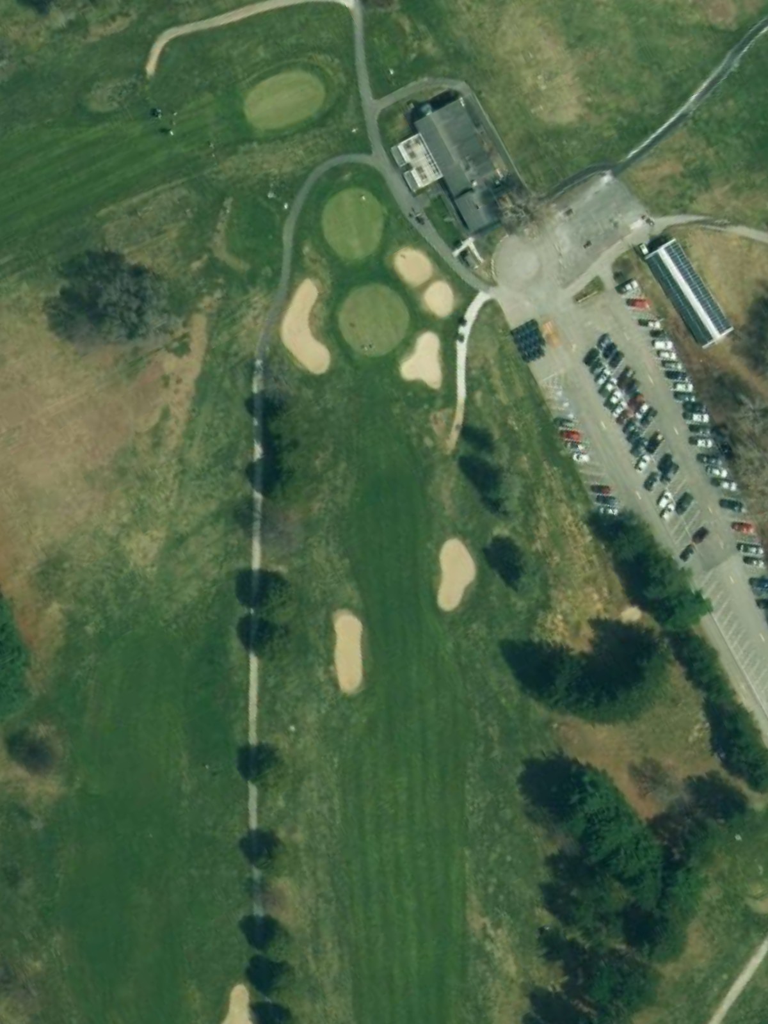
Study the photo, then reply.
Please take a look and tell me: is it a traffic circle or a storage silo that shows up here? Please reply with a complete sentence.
It is a traffic circle that can be seen here.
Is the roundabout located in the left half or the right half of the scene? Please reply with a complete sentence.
The roundabout sits on the right side.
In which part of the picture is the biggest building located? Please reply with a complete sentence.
The biggest building is in the top part of the image.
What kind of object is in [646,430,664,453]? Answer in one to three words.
vehicle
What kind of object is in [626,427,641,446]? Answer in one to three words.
car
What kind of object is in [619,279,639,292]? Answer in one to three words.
vehicle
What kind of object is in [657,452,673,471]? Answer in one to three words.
car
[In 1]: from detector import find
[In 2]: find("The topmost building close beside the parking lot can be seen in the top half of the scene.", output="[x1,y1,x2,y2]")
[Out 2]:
[415,97,505,232]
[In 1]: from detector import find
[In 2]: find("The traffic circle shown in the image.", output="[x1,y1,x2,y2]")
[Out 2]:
[494,234,542,282]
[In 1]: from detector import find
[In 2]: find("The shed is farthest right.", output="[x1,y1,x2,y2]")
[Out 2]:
[646,238,735,348]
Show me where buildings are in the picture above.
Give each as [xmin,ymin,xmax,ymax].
[415,97,505,232]
[646,238,735,348]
